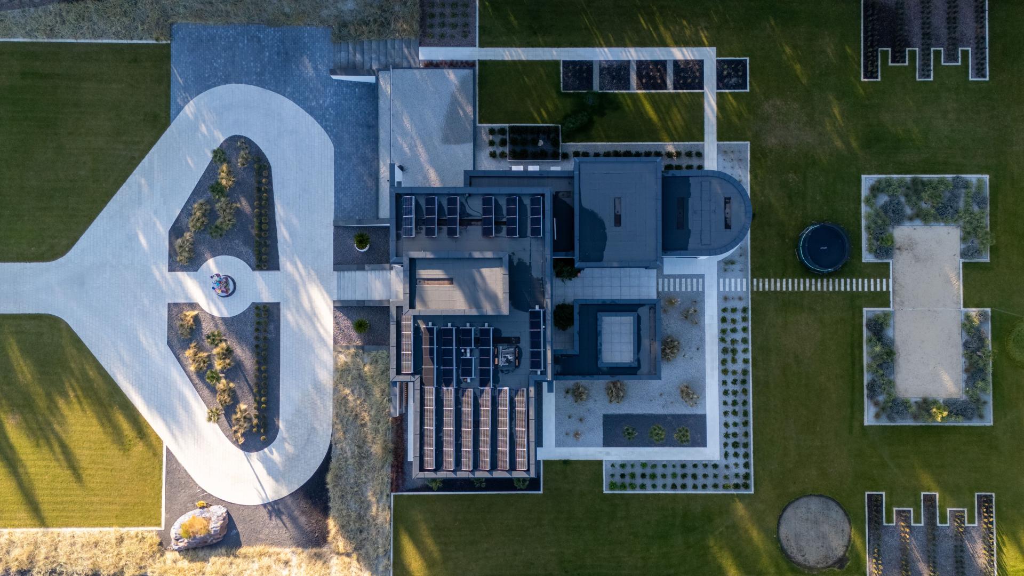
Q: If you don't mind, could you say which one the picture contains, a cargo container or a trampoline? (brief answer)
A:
trampoline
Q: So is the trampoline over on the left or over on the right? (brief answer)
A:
right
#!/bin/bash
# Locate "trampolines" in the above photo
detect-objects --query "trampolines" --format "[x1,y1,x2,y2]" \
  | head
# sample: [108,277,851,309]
[794,221,859,274]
